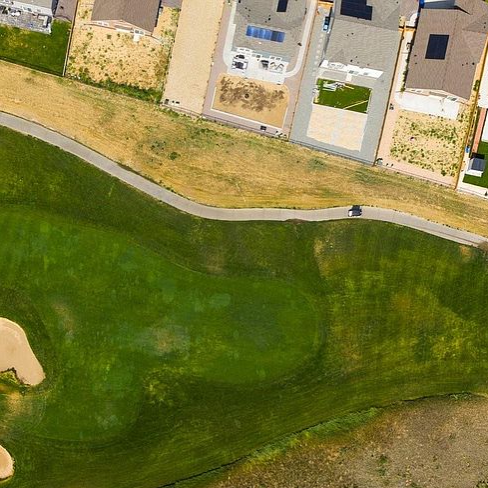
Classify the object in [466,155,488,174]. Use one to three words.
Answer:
shed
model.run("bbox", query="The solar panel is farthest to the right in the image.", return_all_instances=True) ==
[425,34,450,59]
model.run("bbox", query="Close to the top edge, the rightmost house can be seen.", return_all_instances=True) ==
[400,0,488,105]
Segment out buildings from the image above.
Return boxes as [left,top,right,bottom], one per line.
[320,0,397,78]
[0,0,54,16]
[400,0,488,105]
[90,0,159,39]
[230,0,304,67]
[466,155,488,174]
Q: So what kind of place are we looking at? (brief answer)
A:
golf course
